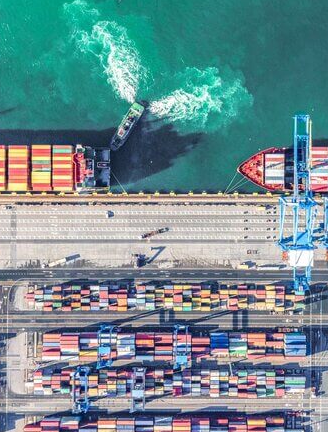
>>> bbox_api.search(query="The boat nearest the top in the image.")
[113,102,145,148]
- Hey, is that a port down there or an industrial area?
port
